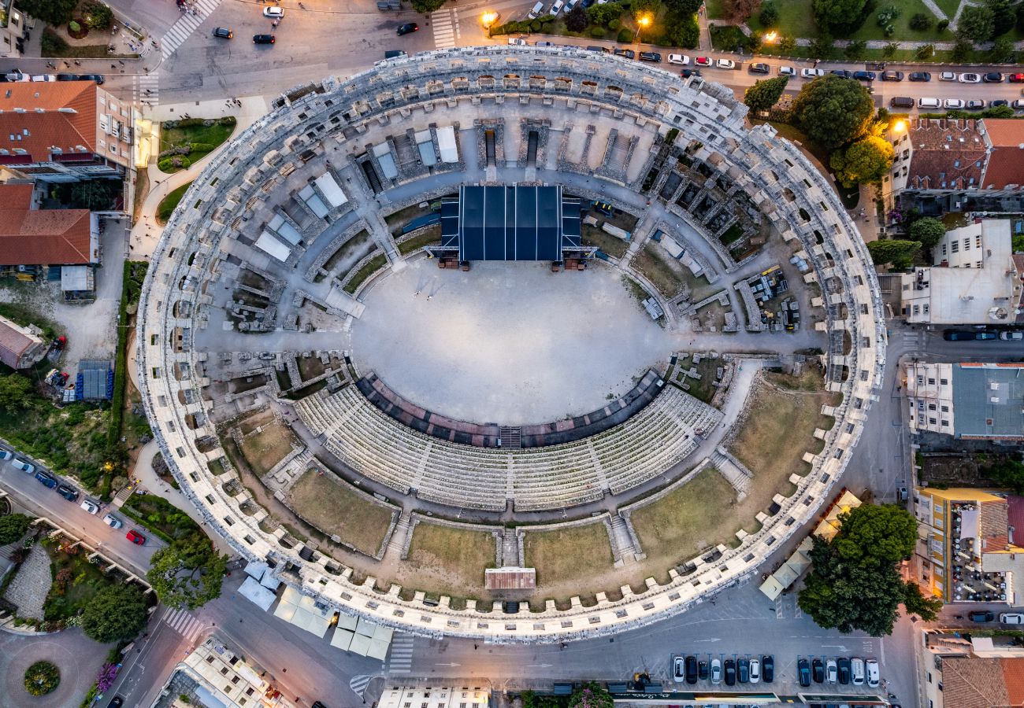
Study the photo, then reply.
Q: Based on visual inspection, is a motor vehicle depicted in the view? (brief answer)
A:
Yes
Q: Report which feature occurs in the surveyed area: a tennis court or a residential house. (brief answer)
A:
residential house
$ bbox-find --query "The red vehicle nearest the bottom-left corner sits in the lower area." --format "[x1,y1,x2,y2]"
[125,528,147,545]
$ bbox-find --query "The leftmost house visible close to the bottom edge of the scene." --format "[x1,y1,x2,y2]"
[150,638,263,708]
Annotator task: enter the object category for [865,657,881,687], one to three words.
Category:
vehicle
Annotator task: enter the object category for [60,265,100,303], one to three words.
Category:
shed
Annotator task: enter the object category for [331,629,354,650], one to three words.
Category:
tent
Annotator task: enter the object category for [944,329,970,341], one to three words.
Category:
vehicle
